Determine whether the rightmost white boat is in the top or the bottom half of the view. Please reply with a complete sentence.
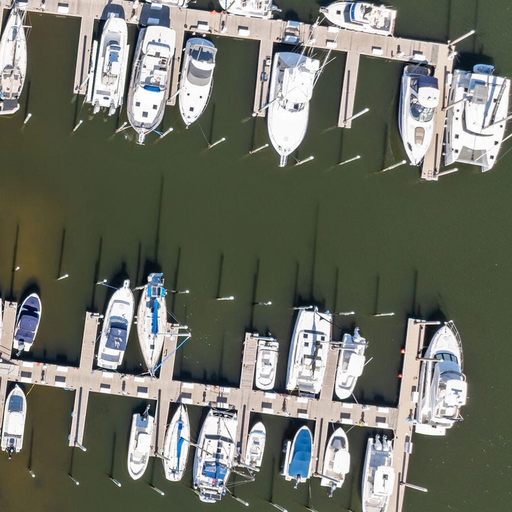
You can find the rightmost white boat in the top half.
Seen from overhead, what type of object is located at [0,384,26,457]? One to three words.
boat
